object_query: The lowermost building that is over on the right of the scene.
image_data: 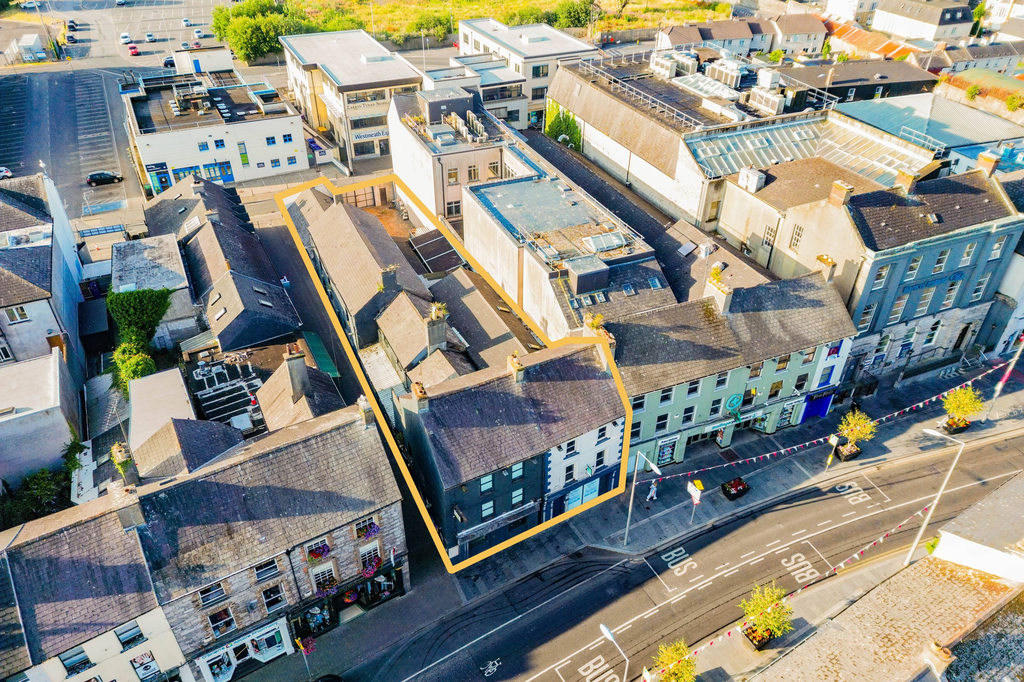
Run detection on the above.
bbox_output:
[738,536,1024,682]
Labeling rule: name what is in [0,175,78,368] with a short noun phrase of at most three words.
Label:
house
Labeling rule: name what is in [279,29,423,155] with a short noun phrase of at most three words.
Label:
building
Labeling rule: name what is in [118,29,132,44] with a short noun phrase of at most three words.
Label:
car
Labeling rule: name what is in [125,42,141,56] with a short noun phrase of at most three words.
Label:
car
